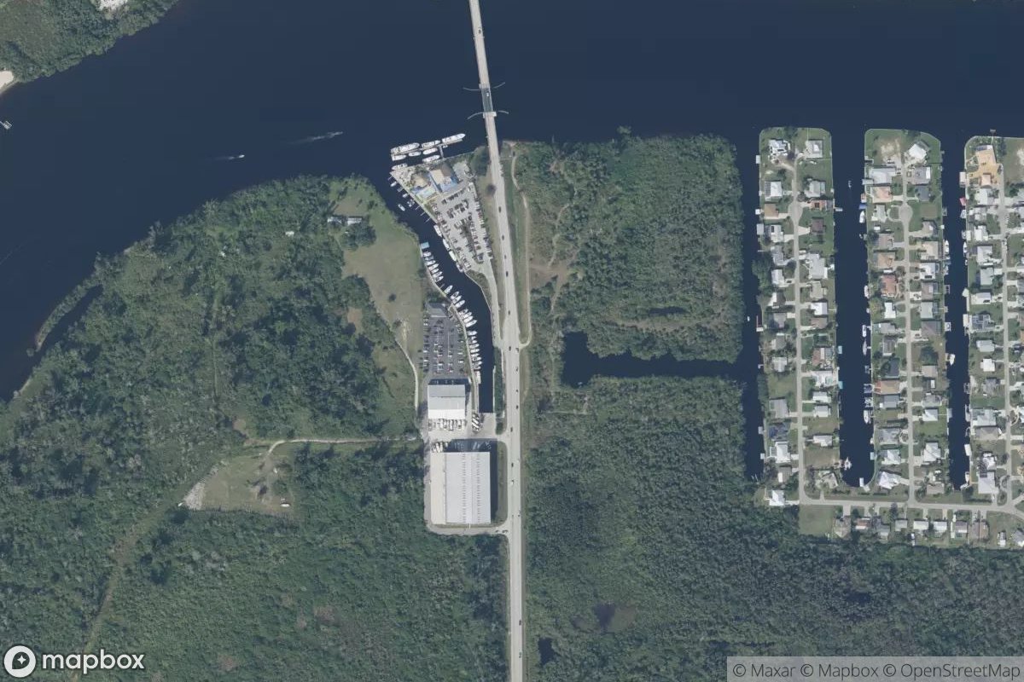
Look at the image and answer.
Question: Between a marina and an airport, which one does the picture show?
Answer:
marina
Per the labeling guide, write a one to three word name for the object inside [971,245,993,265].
house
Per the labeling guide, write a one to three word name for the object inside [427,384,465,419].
building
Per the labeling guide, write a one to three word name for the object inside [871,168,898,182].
house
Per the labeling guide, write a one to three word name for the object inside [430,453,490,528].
building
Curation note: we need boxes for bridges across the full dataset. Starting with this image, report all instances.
[463,0,508,205]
